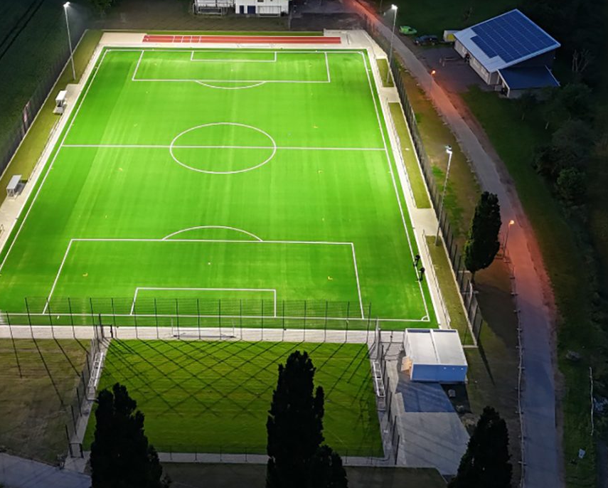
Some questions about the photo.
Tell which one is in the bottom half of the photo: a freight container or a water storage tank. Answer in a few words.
freight container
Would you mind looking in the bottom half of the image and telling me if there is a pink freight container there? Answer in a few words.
No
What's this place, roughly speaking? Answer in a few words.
sports ground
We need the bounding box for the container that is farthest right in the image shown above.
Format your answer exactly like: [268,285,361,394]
[434,329,470,383]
